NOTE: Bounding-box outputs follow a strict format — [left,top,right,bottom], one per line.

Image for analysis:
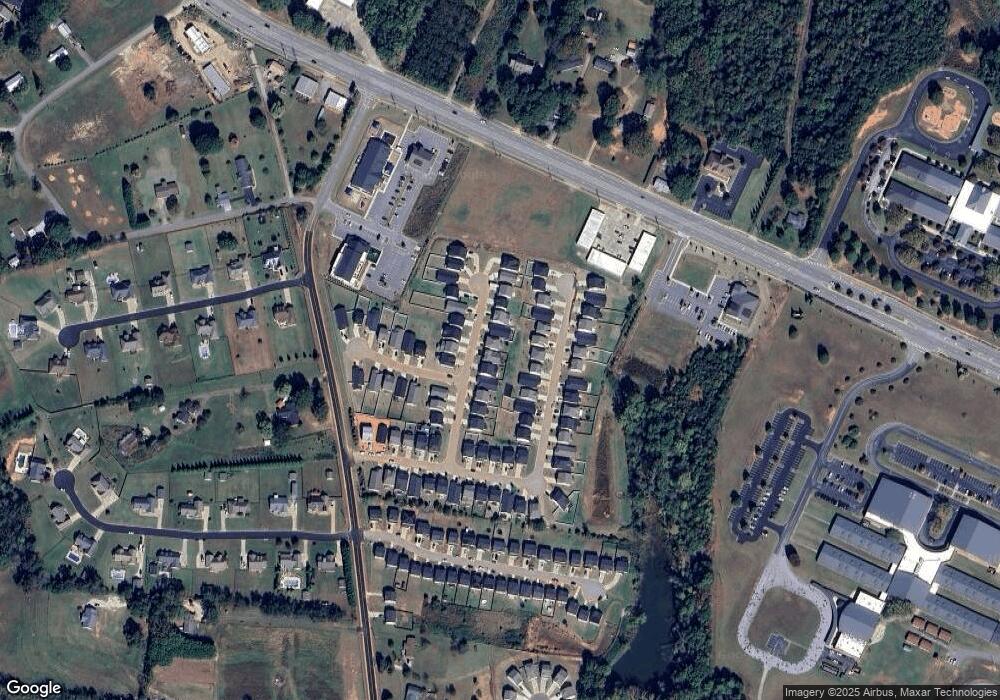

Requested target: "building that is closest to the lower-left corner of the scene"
[79,604,100,630]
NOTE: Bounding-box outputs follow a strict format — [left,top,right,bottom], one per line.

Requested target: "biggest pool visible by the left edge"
[15,451,28,471]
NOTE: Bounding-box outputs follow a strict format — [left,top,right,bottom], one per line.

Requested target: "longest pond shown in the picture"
[607,544,676,684]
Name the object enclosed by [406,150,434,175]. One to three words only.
building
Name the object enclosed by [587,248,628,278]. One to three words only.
shed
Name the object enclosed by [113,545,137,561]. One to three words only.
house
